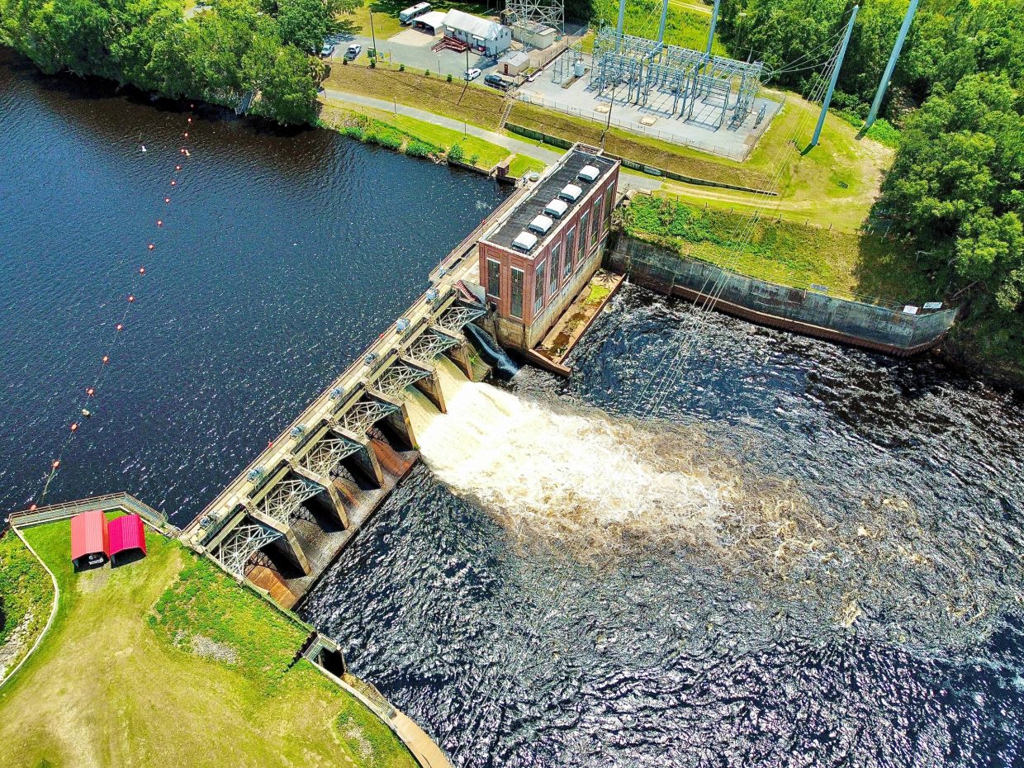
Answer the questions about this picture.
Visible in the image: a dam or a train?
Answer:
dam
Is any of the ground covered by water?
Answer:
Yes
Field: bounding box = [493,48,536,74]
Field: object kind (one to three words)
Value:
shed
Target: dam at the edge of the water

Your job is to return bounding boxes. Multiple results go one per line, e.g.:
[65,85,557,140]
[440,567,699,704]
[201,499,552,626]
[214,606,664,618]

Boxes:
[175,281,501,613]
